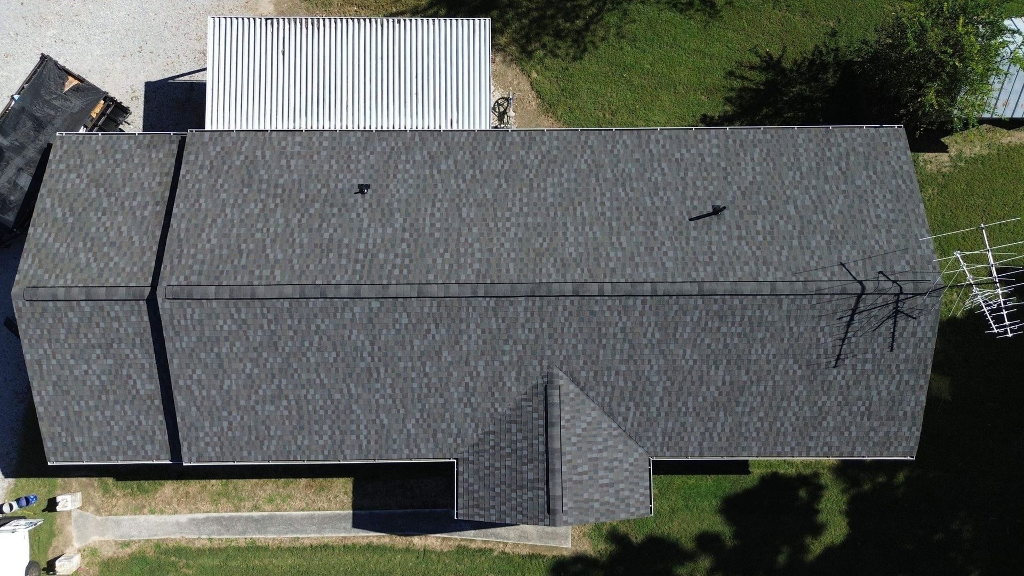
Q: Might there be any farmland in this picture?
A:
No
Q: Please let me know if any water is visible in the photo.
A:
No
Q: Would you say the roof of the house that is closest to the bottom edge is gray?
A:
Yes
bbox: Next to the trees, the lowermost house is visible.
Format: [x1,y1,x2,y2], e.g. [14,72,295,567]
[12,123,945,526]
